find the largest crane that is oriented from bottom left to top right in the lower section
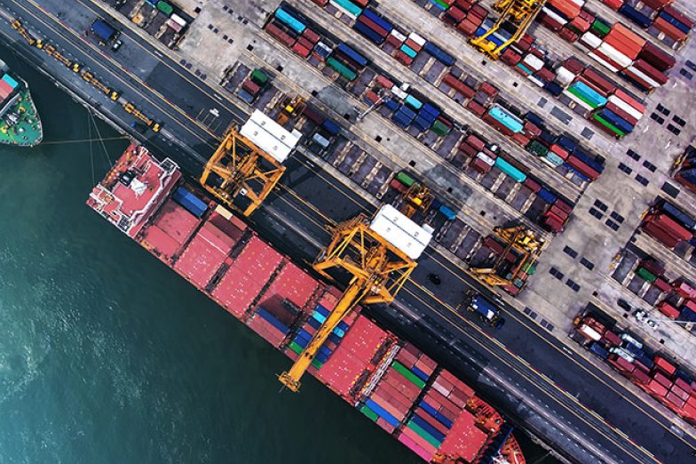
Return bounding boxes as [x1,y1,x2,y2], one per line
[276,196,440,397]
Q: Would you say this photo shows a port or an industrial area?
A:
port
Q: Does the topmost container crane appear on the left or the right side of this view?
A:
right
